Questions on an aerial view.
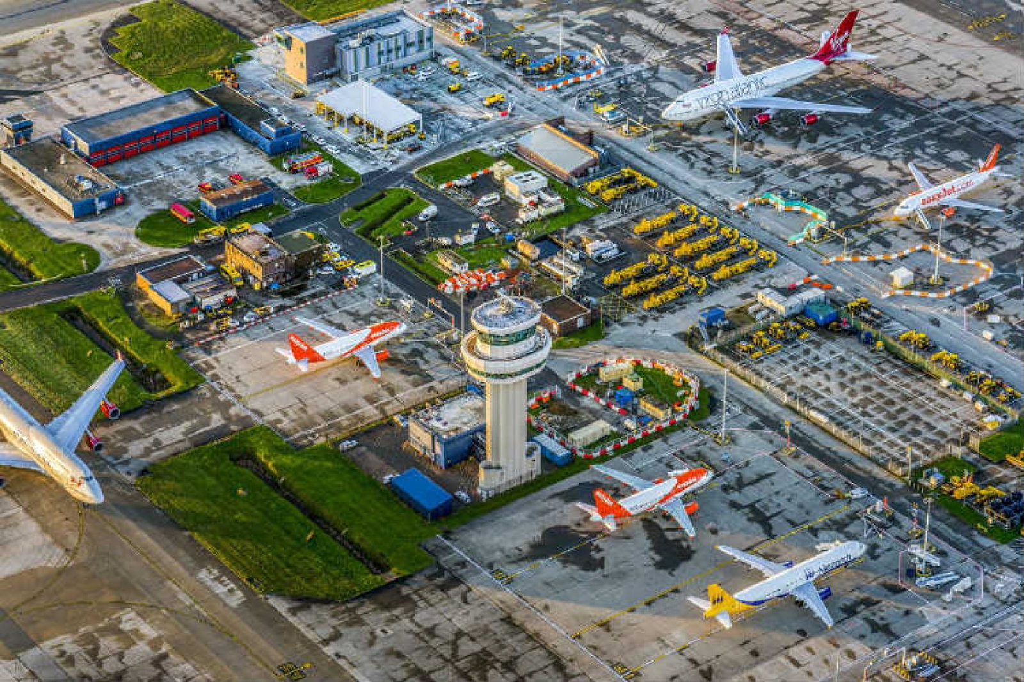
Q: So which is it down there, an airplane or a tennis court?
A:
airplane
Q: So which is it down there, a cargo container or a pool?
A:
cargo container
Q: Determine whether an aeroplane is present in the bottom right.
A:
Yes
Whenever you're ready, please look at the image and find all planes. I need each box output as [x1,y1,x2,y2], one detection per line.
[569,464,714,539]
[0,343,130,506]
[684,540,866,626]
[661,6,888,129]
[895,147,1012,220]
[269,316,407,378]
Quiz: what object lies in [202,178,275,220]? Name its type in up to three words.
shed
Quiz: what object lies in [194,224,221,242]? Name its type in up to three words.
vehicle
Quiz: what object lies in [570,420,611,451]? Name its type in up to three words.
shipping container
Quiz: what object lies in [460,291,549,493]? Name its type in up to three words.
building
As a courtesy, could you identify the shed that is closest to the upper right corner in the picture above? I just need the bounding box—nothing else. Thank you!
[890,268,913,290]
